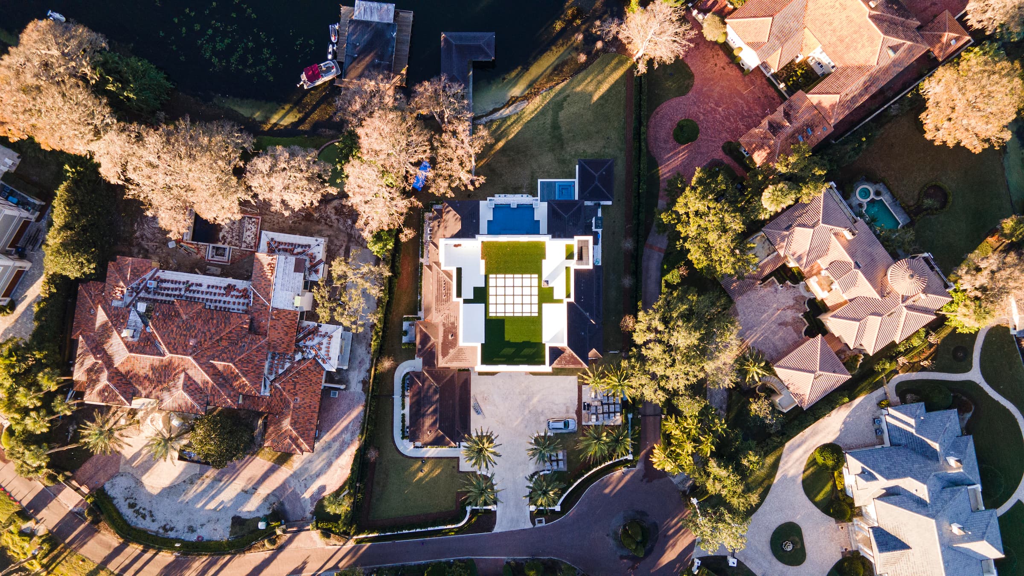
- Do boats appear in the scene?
Yes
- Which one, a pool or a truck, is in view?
pool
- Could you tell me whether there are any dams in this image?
No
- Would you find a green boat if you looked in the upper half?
No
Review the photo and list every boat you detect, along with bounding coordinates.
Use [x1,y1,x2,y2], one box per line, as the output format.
[298,62,339,87]
[330,23,338,43]
[327,41,335,61]
[45,4,65,21]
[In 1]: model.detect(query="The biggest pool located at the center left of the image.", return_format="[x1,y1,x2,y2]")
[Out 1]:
[185,211,263,267]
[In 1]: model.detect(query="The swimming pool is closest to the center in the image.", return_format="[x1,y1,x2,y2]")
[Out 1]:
[487,204,540,235]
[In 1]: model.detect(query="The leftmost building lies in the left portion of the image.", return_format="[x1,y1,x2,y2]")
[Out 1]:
[0,182,53,305]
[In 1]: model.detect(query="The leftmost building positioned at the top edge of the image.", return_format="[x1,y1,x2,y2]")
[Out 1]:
[335,0,414,88]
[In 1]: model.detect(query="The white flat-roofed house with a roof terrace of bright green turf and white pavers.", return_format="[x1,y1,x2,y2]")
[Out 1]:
[416,197,603,376]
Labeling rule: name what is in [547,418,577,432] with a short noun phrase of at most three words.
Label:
car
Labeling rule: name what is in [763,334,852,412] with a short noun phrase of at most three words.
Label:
building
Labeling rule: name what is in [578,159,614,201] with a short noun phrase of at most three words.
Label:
building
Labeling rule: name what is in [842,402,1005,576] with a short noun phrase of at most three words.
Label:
house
